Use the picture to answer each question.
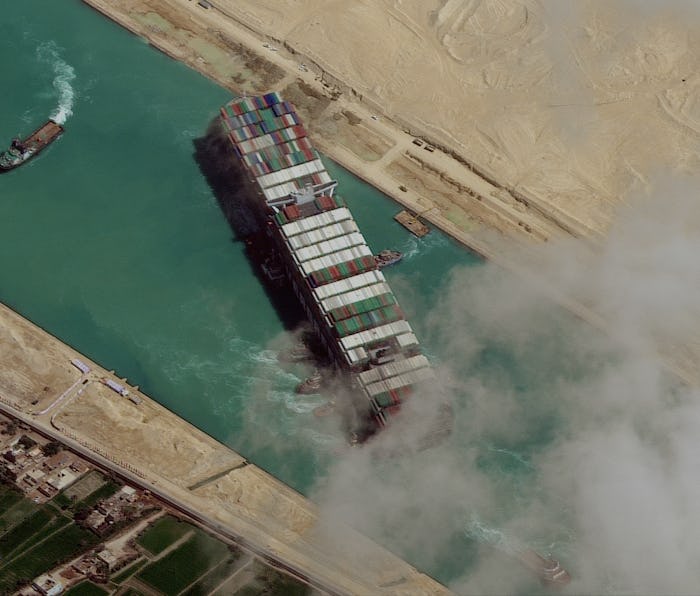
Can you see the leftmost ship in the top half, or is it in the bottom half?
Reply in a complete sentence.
Seen from above, the leftmost ship lies in the top half of the view.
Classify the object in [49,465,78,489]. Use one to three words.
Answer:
house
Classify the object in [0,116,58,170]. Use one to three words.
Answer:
ship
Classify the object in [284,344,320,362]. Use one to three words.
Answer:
boat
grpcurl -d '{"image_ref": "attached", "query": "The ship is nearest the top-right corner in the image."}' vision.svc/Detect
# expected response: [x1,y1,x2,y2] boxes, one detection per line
[394,207,429,236]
